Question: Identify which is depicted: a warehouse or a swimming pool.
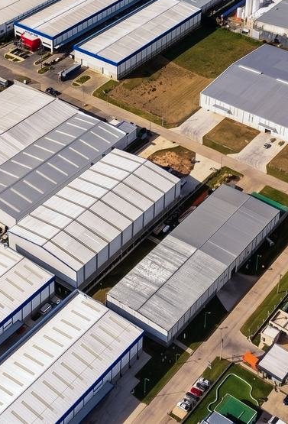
warehouse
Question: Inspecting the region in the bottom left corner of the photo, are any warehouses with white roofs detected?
Yes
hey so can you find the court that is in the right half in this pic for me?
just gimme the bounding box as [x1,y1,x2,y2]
[208,373,258,424]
